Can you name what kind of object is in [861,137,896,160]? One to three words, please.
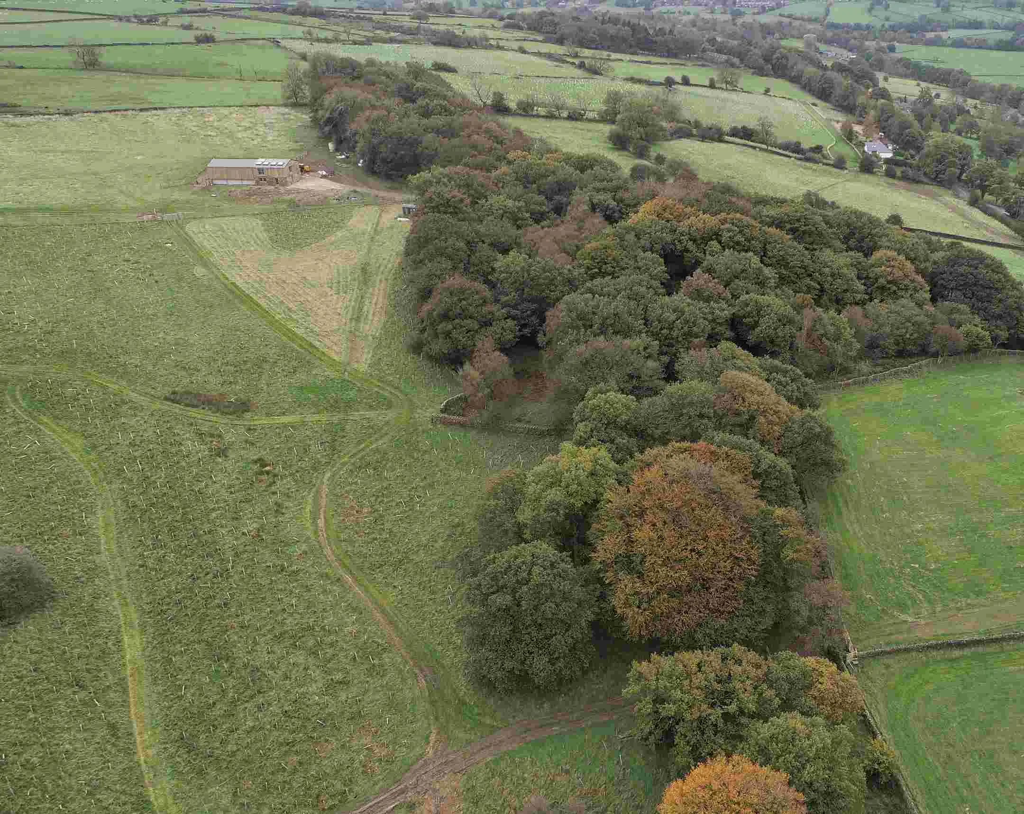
house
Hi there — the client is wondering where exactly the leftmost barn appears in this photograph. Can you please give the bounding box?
[207,159,297,186]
